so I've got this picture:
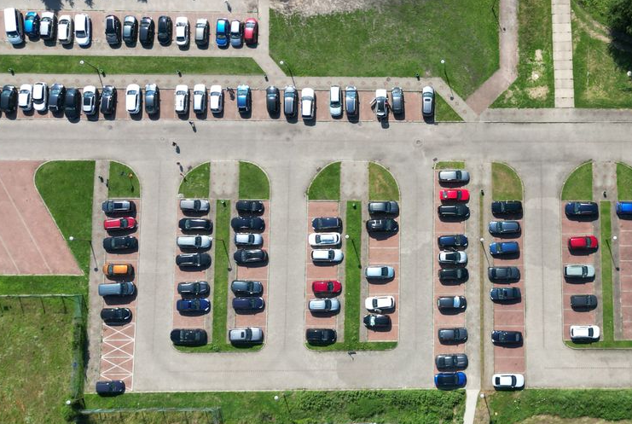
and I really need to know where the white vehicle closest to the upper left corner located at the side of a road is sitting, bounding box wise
[2,6,24,45]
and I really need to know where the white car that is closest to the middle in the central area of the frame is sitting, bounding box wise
[309,232,341,247]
